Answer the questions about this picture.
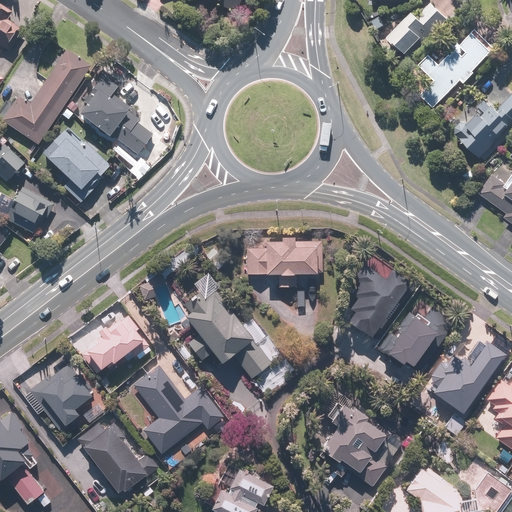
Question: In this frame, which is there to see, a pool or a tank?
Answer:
pool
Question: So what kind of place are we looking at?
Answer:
residential area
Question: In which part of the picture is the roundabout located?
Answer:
top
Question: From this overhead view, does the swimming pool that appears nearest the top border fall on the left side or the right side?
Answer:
left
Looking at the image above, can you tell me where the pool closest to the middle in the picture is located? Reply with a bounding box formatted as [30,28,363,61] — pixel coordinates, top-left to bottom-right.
[152,274,186,326]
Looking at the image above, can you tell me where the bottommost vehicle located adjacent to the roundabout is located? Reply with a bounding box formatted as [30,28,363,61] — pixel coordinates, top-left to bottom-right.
[318,124,330,151]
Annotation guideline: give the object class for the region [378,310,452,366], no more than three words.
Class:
house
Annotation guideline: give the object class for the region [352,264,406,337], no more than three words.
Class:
house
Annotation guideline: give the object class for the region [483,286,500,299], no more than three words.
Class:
vehicle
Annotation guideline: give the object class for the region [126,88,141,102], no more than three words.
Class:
car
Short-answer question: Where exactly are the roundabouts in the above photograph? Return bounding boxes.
[226,80,320,174]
